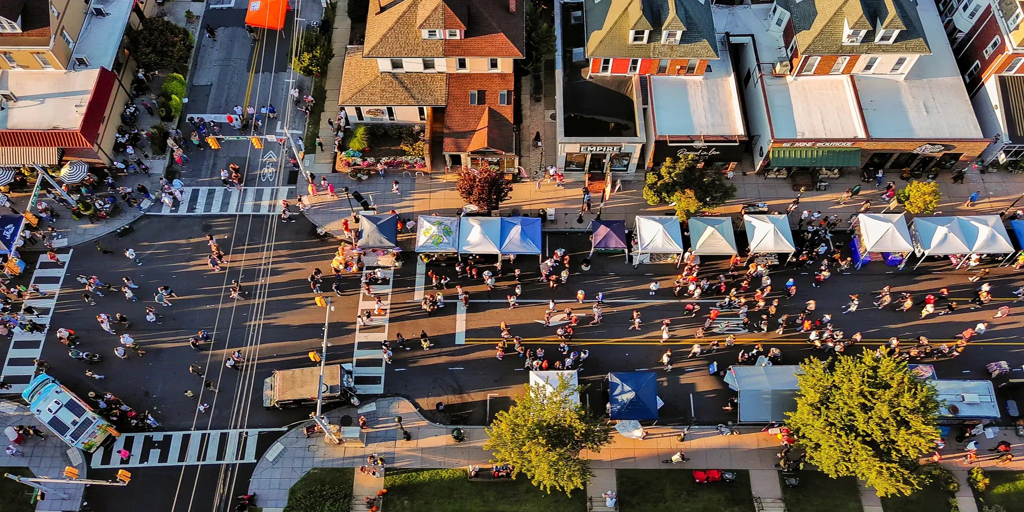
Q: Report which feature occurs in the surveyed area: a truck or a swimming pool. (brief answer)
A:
truck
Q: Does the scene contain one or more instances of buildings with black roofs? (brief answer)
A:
Yes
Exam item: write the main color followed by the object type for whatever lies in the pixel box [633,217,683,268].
white tent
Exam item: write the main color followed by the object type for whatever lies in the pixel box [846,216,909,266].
white tent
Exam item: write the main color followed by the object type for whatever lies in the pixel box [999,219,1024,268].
blue tent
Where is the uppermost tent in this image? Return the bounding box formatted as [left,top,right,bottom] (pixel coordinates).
[247,0,297,48]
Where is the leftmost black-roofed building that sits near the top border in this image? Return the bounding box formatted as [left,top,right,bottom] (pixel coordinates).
[553,0,646,181]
